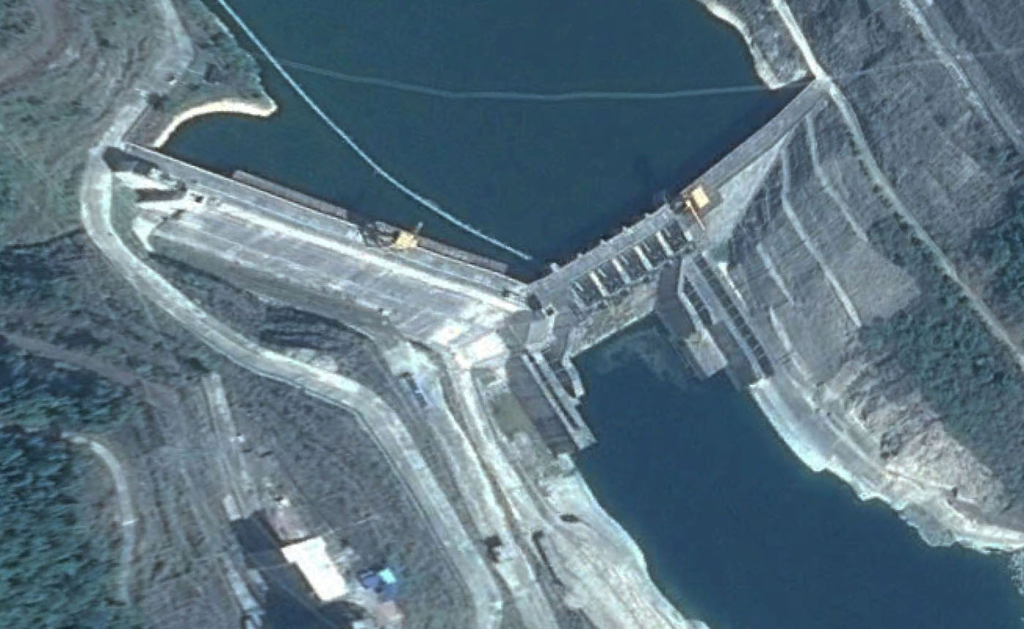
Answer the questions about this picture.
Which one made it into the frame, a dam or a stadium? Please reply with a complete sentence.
This aerial view contains a dam.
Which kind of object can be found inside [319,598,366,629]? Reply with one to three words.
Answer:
shed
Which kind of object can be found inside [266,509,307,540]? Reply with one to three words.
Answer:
house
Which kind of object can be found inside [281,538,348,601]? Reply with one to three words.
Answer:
house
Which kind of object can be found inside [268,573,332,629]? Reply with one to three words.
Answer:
building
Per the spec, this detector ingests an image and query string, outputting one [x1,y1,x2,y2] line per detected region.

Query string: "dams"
[112,78,833,471]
